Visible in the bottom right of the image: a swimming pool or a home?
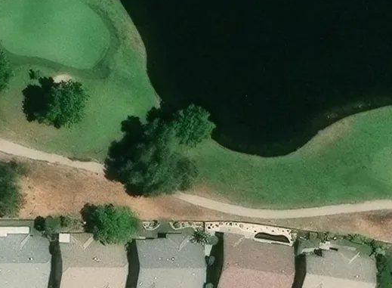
home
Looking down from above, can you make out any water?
Yes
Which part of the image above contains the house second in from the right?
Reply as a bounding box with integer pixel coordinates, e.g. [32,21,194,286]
[218,235,295,288]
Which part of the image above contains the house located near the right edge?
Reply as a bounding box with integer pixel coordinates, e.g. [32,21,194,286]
[301,244,377,288]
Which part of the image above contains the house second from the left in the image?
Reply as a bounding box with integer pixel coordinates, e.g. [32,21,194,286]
[60,234,128,288]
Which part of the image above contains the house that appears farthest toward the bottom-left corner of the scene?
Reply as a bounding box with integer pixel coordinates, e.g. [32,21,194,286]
[0,234,52,288]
